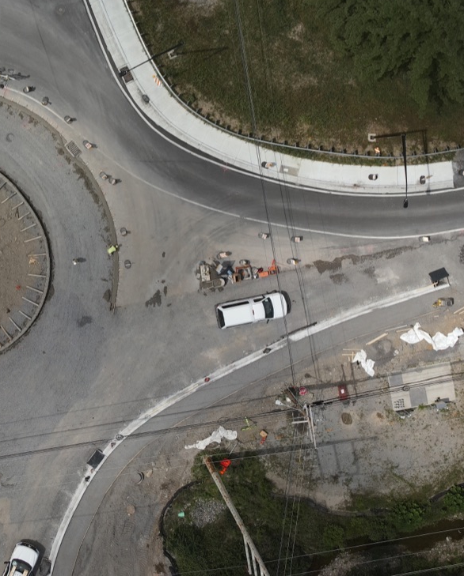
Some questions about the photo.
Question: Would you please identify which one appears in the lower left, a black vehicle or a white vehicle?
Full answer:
What appears in the lower left is a white vehicle.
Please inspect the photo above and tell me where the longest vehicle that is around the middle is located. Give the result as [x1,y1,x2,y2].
[215,293,292,329]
